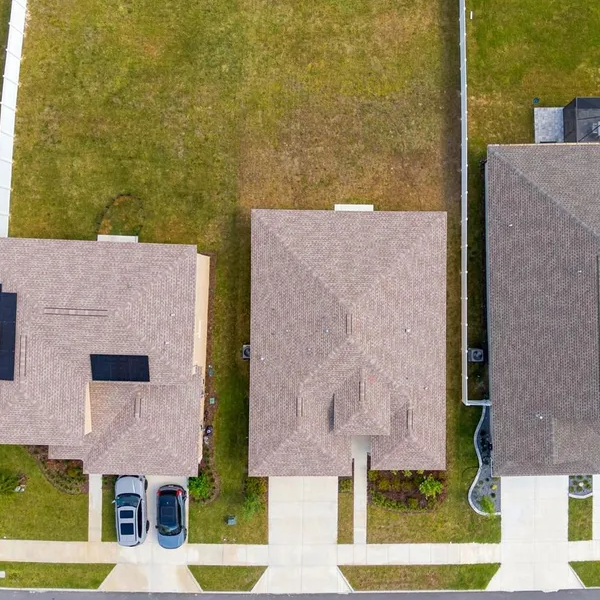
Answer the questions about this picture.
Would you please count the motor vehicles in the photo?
two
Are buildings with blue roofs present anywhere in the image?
No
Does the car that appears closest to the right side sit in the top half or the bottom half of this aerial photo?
bottom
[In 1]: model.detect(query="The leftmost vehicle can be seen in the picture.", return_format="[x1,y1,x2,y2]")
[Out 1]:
[112,474,152,547]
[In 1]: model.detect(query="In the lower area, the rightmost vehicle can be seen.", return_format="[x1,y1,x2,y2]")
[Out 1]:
[152,483,187,548]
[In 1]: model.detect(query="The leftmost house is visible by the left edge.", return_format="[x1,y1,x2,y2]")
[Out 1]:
[0,238,213,478]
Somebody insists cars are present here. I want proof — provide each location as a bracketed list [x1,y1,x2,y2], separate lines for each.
[112,474,152,547]
[152,483,187,548]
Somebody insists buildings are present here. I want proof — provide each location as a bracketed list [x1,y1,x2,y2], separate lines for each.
[248,209,449,478]
[485,142,600,478]
[0,238,213,478]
